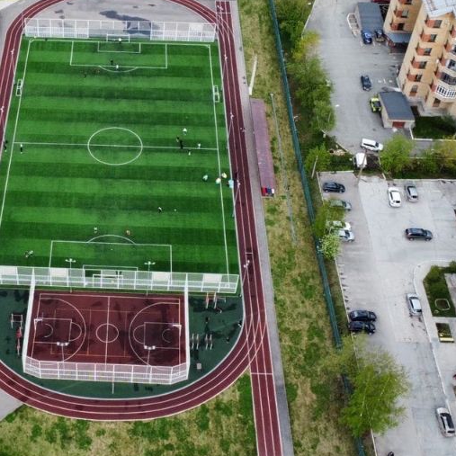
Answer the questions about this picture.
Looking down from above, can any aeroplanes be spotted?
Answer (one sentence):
No, there is no aeroplane in the image.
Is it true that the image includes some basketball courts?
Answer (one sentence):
Yes, you can see a basketball court in this photo.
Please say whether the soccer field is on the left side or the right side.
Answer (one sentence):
The soccer field sits on the left side.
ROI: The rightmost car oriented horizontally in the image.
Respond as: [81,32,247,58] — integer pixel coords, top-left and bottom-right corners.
[403,227,432,240]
